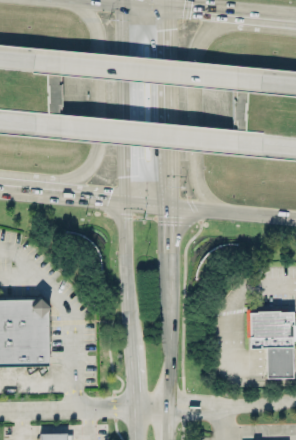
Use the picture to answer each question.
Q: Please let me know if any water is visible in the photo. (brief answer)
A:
No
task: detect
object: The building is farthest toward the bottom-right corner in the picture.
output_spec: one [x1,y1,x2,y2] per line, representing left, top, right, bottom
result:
[248,310,296,378]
